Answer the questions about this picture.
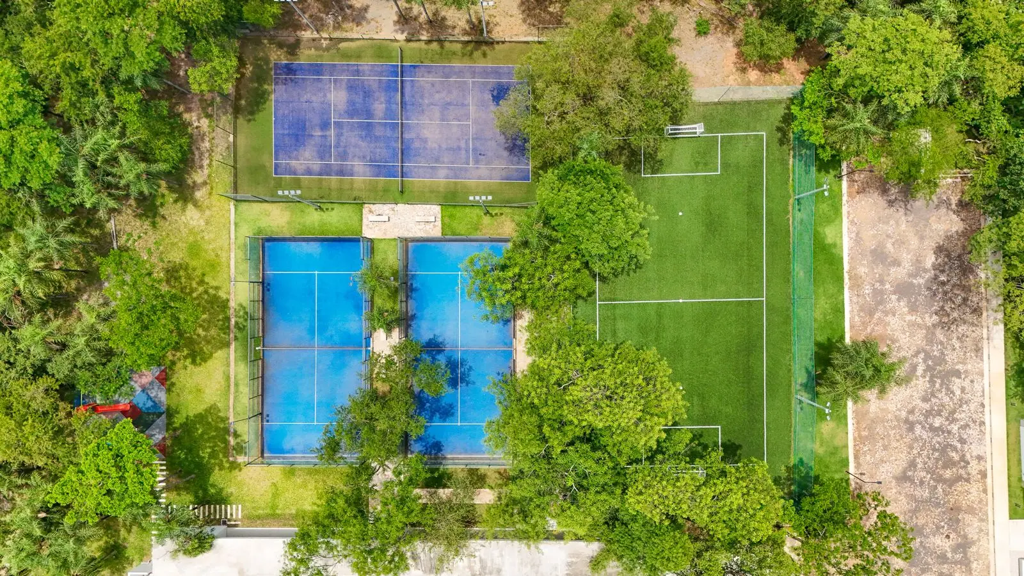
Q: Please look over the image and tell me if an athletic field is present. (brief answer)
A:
Yes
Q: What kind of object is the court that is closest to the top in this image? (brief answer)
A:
tennis court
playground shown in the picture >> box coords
[75,366,166,459]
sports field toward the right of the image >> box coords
[571,99,794,502]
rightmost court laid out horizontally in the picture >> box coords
[234,41,570,205]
